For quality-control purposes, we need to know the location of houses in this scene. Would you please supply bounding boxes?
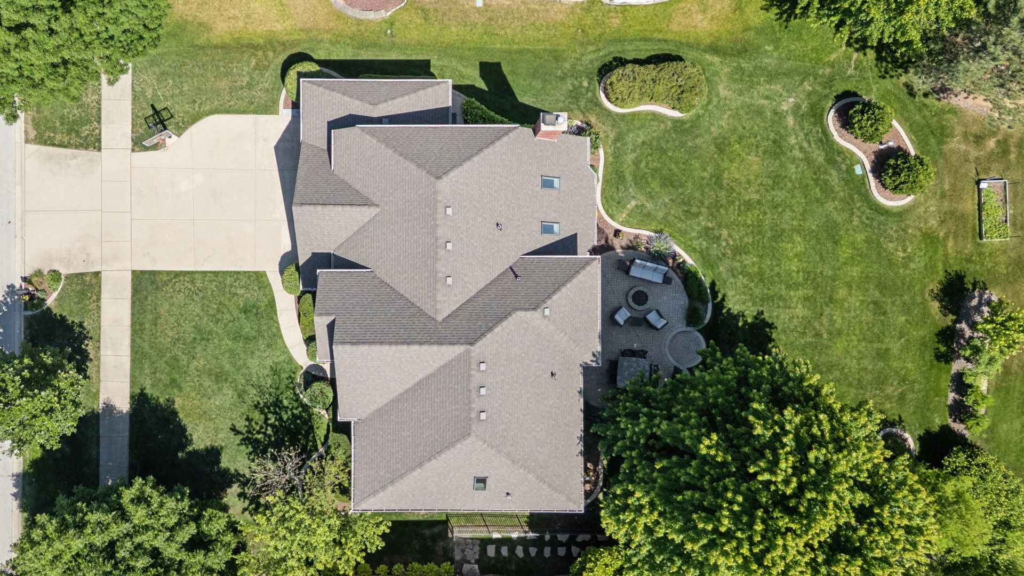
[292,77,599,512]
